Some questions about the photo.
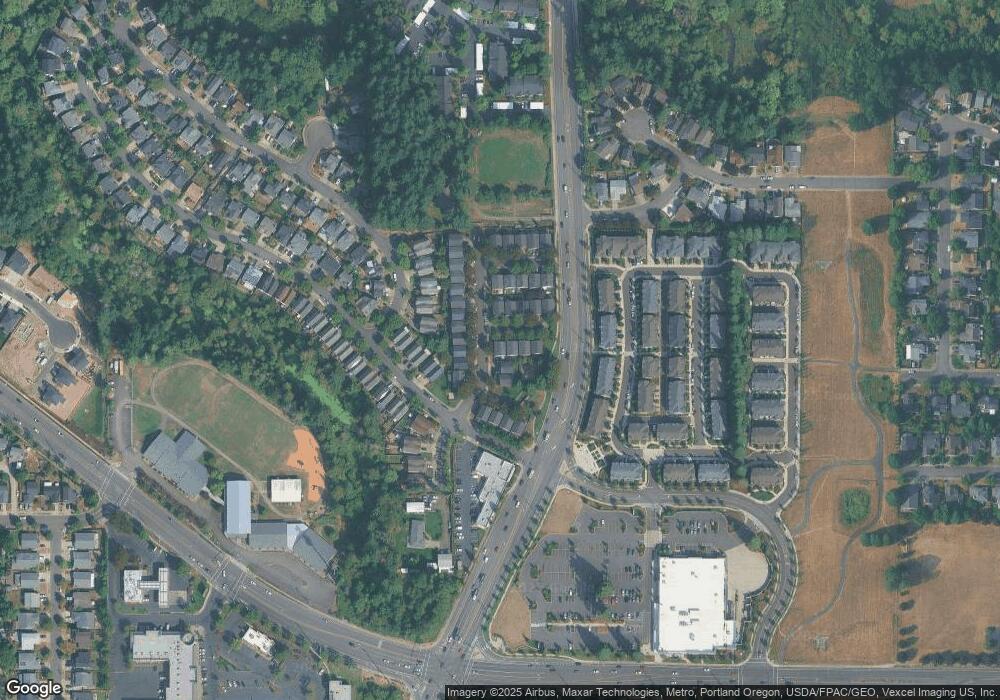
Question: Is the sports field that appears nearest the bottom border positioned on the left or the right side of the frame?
left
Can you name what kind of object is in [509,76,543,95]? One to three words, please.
building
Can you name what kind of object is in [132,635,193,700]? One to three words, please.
building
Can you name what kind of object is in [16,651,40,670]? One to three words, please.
house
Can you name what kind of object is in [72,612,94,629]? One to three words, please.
house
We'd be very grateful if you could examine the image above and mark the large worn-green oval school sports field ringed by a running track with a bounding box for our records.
[155,361,297,475]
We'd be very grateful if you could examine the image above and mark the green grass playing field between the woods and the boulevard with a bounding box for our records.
[474,128,550,190]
